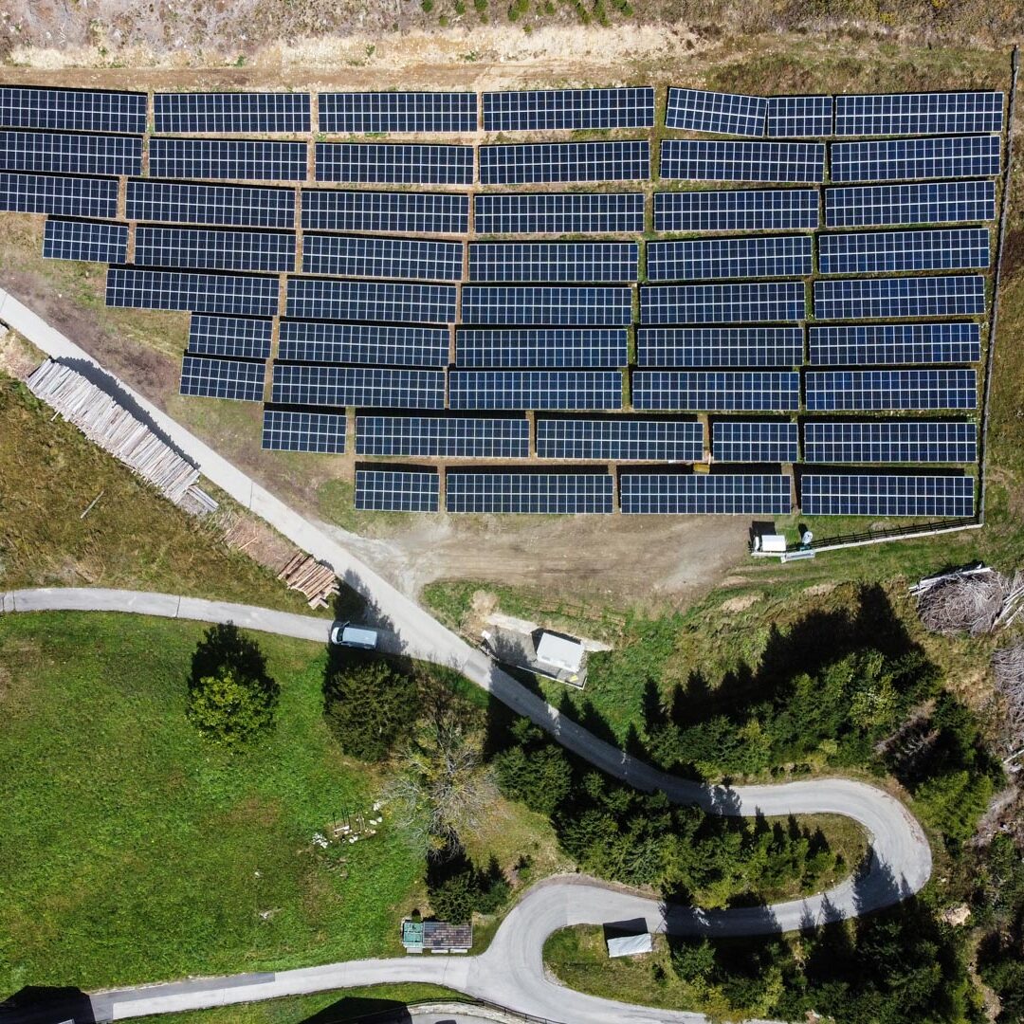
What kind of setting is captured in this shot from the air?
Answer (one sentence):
It's a solar farm.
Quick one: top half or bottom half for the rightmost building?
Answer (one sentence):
Seen from above, the rightmost building lies in the bottom half of the view.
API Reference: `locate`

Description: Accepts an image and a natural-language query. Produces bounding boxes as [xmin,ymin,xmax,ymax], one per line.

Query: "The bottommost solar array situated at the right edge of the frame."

[801,476,975,516]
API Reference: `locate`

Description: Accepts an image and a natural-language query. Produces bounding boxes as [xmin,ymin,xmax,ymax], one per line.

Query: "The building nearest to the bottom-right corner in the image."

[607,932,651,957]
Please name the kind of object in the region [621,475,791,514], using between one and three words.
solar array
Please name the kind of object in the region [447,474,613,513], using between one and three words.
solar array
